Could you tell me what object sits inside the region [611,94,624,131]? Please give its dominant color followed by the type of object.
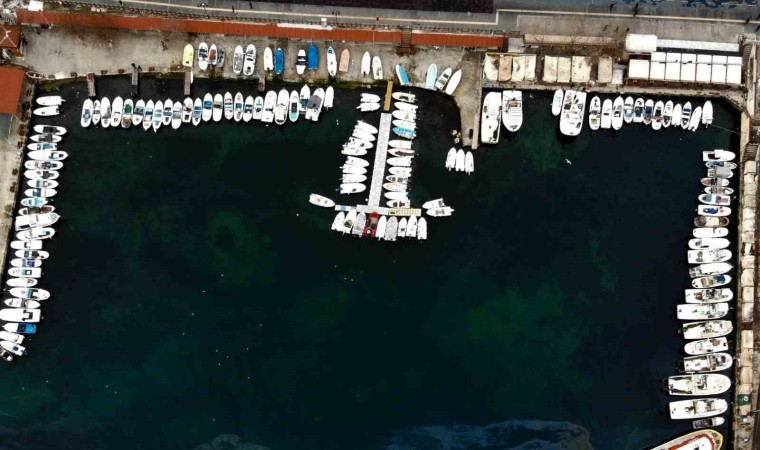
white boat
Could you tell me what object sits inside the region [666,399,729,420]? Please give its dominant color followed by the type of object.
white boat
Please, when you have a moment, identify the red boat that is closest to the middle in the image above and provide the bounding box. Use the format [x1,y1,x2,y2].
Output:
[364,212,379,238]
